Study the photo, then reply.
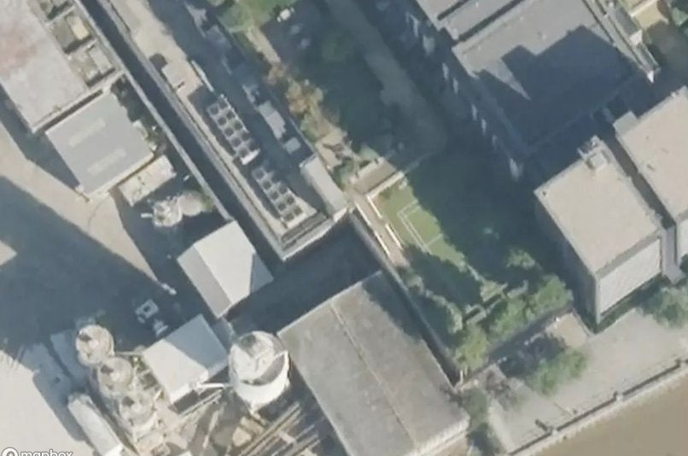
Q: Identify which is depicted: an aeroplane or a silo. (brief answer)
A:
silo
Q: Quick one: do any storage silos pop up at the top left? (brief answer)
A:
No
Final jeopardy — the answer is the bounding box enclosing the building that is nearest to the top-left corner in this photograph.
[0,0,126,144]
